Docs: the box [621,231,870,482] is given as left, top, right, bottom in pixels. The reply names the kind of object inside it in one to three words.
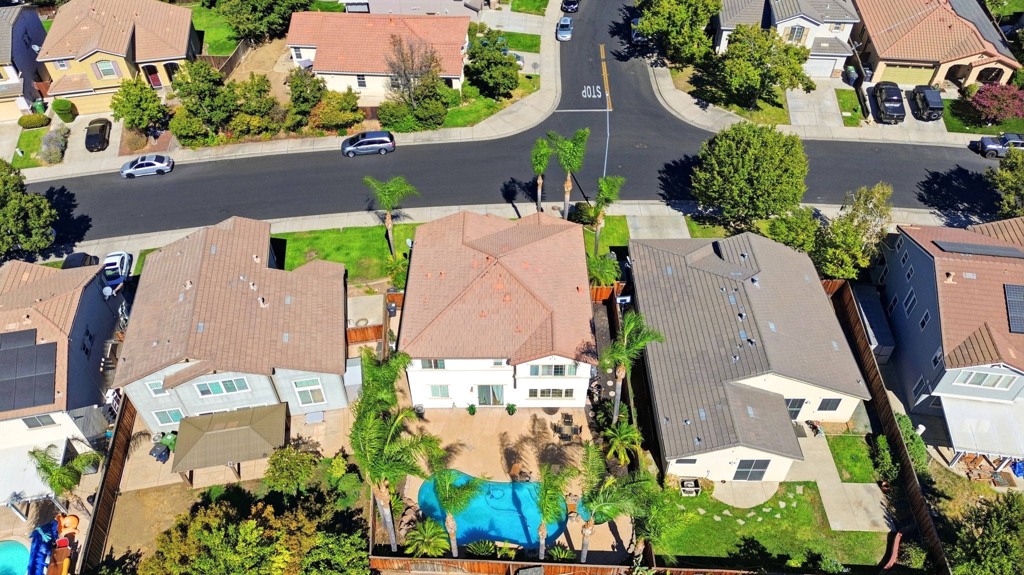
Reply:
house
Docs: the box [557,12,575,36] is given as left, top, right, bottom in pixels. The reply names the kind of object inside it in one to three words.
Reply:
car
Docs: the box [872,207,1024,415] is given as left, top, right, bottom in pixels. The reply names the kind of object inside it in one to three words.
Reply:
house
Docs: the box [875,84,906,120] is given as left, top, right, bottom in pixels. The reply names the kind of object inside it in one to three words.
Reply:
vehicle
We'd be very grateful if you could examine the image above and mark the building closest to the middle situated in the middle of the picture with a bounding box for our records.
[396,206,598,412]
